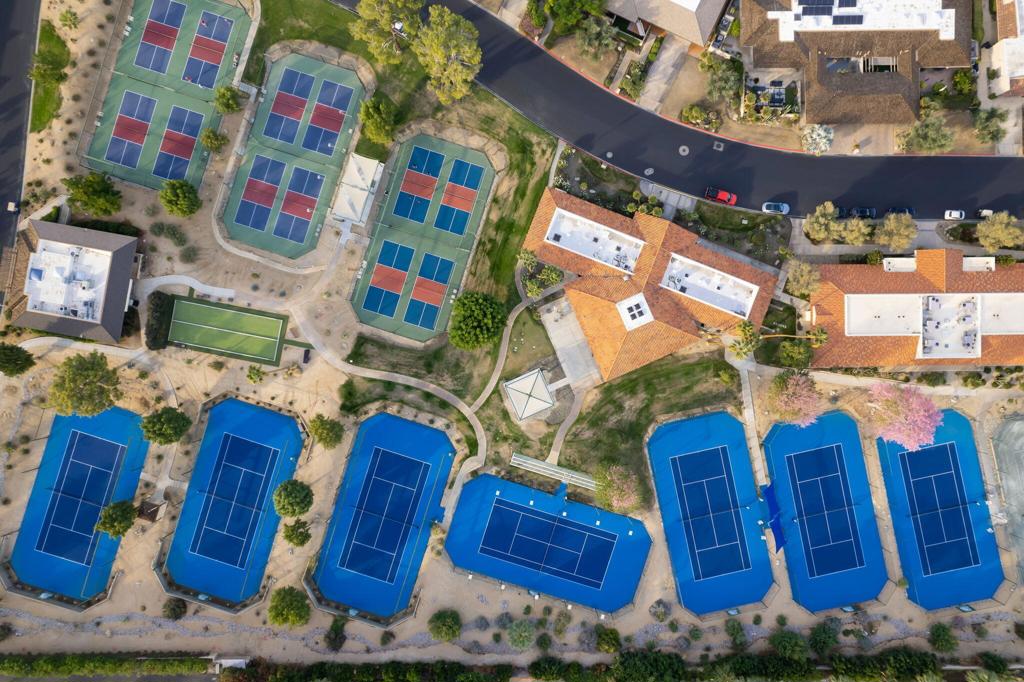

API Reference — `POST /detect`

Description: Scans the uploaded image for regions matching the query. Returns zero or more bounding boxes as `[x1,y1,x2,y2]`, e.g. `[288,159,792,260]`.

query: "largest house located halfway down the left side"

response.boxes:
[9,219,141,341]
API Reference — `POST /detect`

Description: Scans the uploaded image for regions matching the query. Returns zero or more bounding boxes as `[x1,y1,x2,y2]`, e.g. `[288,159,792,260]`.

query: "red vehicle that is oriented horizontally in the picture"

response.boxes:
[706,186,737,204]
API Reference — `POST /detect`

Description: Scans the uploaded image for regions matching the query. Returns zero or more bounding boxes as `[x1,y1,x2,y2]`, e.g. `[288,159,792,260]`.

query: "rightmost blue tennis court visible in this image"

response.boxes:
[876,408,1003,611]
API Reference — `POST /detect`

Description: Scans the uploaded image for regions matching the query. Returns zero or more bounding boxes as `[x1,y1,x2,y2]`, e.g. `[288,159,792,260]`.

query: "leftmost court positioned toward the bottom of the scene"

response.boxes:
[11,400,149,600]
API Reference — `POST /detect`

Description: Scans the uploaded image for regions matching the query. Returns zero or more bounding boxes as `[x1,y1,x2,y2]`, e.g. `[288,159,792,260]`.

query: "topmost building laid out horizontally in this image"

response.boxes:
[599,0,730,54]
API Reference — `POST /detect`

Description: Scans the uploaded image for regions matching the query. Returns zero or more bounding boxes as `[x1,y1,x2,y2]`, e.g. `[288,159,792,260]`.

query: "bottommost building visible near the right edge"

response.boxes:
[796,249,1024,367]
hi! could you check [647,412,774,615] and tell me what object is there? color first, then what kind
blue tennis court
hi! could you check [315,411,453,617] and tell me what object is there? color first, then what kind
blue tennis court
